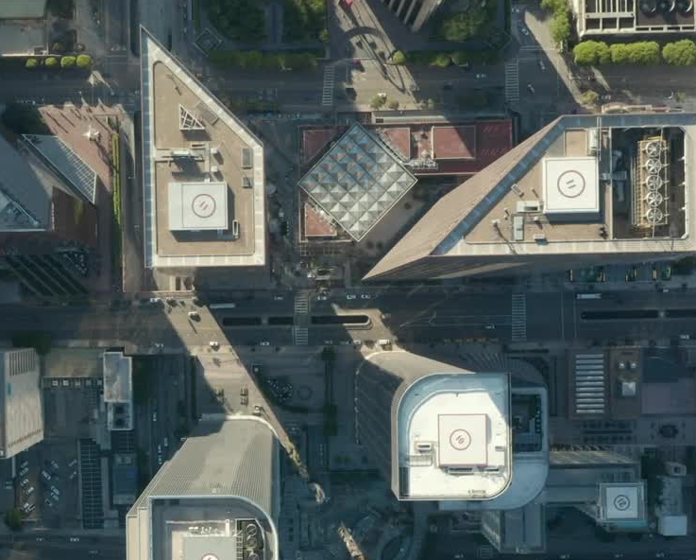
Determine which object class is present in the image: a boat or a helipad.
helipad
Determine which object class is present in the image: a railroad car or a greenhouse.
greenhouse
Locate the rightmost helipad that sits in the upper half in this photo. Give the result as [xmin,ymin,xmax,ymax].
[541,157,599,213]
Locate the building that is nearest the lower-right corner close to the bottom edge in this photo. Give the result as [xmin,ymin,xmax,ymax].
[649,510,687,535]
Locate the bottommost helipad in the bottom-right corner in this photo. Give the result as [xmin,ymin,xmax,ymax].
[606,487,638,519]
